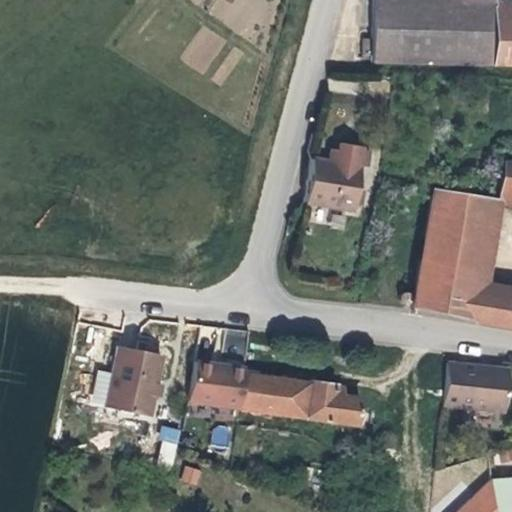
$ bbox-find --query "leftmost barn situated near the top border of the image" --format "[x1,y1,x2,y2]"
[368,0,500,68]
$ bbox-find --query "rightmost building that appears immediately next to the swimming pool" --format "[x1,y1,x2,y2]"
[238,368,368,429]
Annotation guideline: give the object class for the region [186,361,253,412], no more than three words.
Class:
house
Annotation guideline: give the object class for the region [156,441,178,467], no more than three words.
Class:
shed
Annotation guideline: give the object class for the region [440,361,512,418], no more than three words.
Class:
house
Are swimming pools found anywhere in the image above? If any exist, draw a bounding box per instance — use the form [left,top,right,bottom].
[208,425,232,459]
